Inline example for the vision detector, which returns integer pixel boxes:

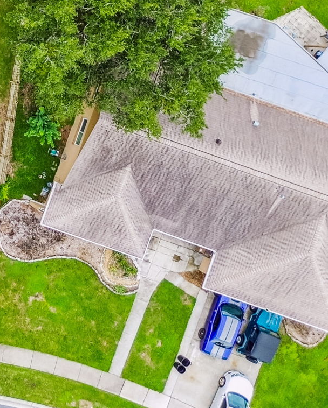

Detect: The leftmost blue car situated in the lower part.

[202,293,251,364]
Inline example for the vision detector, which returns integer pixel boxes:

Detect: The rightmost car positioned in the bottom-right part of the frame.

[238,306,288,369]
